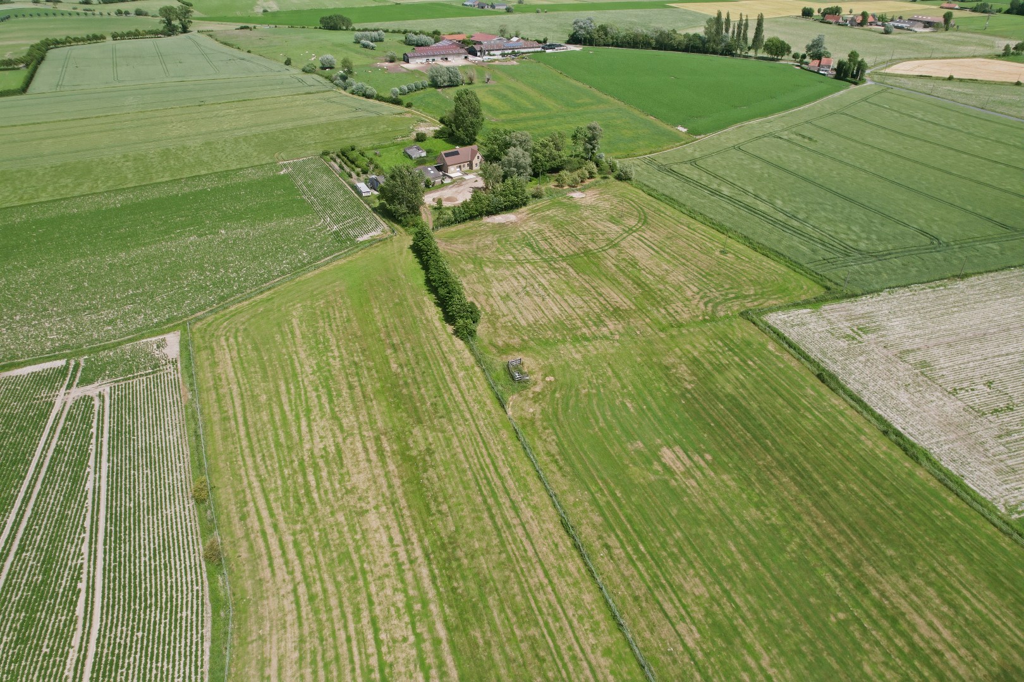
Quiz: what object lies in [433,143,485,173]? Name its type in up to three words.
house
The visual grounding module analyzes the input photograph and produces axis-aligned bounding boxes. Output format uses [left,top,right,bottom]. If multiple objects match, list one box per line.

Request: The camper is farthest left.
[355,180,370,194]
